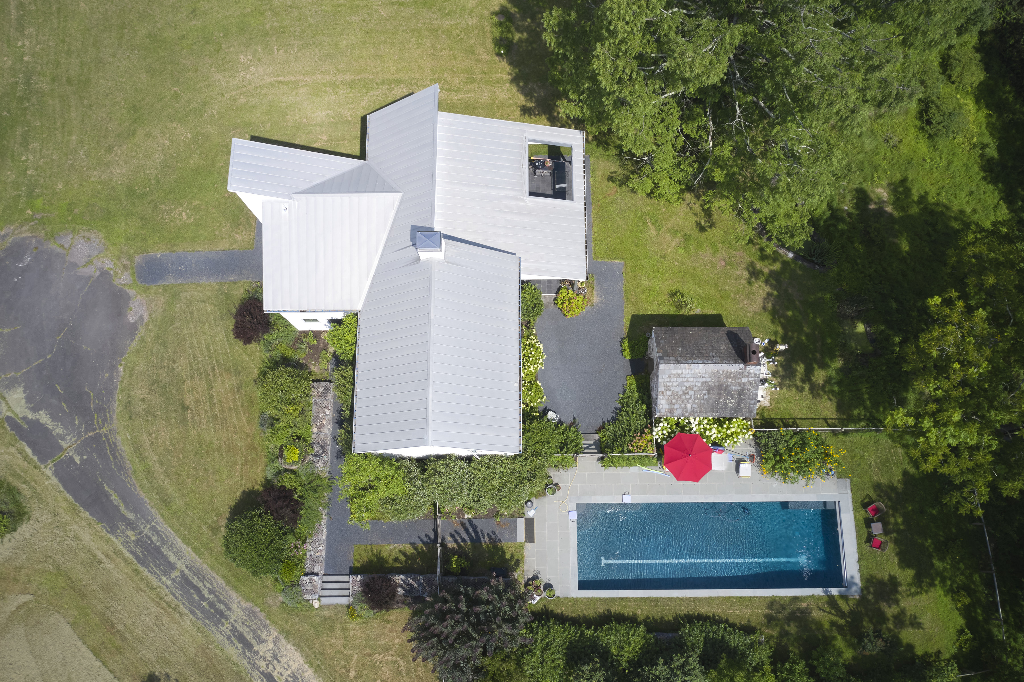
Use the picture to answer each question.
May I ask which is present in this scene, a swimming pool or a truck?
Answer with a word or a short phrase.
swimming pool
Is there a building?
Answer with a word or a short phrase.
Yes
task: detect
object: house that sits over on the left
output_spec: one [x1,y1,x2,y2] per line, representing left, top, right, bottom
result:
[225,83,589,463]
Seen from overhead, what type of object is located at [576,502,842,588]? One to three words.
swimming pool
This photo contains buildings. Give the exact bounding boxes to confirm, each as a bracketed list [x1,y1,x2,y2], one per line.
[647,327,760,418]
[225,83,589,463]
